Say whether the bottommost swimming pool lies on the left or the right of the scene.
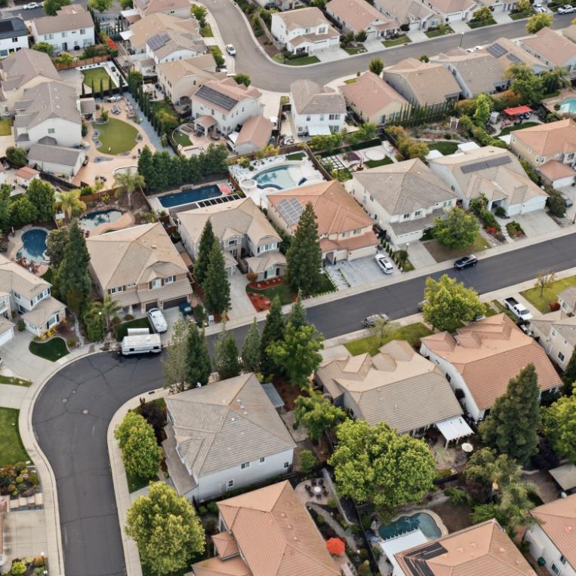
right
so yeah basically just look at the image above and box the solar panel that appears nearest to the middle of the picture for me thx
[276,198,305,223]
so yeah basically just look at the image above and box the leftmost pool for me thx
[18,228,50,263]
